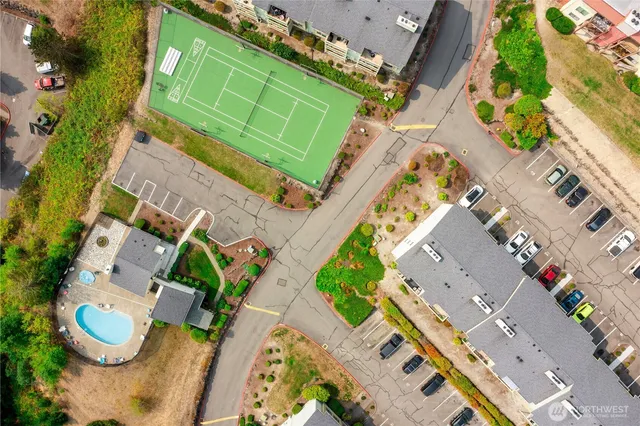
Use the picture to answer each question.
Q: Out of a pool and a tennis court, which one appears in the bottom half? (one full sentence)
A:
There is a pool in the bottom half.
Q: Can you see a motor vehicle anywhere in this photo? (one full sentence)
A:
Yes, this view includes a motor vehicle.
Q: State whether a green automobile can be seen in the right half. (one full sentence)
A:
Yes, I can see a green automobile in the right half.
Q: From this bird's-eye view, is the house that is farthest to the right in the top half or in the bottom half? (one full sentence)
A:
It is in the top half that the house that is farthest to the right appears.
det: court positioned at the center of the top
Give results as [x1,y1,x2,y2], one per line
[148,6,361,187]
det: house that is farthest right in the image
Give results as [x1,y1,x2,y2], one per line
[561,0,640,85]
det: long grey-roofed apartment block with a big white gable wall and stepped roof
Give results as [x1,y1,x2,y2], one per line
[391,204,640,426]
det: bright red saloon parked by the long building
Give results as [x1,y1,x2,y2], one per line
[536,263,562,286]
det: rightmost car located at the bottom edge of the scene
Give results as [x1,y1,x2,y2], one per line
[448,404,474,426]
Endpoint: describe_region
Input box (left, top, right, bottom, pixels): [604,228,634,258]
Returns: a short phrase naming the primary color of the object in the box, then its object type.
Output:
white truck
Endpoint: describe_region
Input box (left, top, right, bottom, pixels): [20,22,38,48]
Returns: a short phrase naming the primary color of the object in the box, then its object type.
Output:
white car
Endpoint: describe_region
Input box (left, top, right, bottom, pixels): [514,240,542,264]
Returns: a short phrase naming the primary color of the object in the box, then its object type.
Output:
white car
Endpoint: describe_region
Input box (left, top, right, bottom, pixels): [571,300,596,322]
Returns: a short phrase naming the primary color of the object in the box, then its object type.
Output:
green car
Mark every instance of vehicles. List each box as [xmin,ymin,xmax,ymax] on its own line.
[458,184,484,210]
[34,61,60,75]
[20,22,38,48]
[554,174,581,198]
[448,404,474,426]
[420,371,446,396]
[536,263,562,286]
[604,228,634,258]
[34,76,67,91]
[564,186,589,210]
[571,300,596,322]
[584,207,611,231]
[377,332,406,359]
[559,286,585,312]
[503,229,529,254]
[544,164,567,186]
[514,240,542,264]
[400,352,424,375]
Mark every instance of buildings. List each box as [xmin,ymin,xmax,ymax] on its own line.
[391,204,640,426]
[288,404,346,426]
[208,0,434,82]
[561,0,640,85]
[104,227,214,330]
